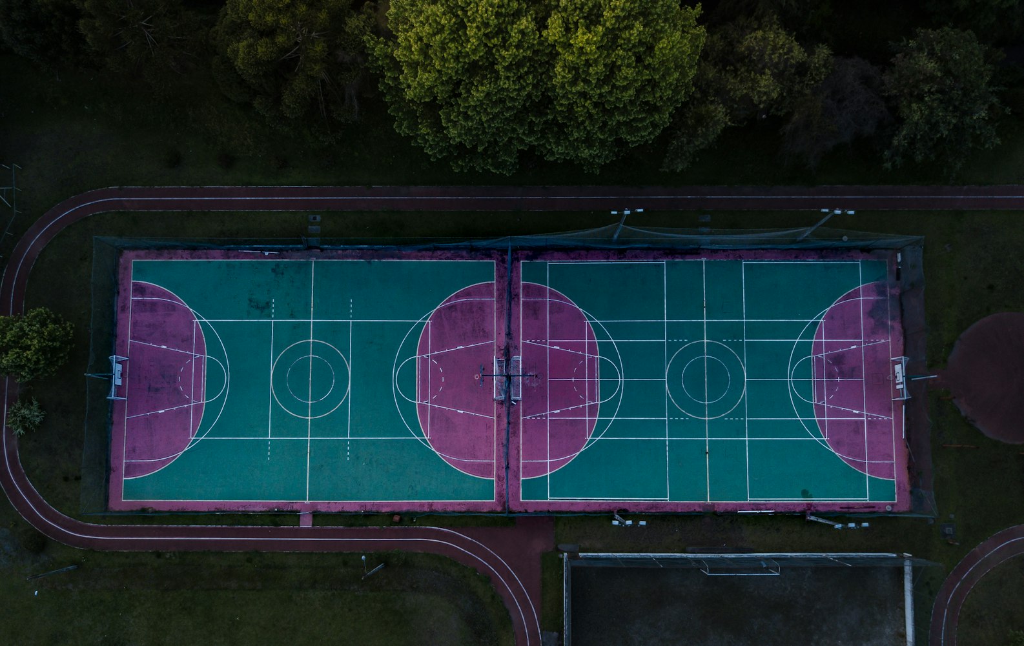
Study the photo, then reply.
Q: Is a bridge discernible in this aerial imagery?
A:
No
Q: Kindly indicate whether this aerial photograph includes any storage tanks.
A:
No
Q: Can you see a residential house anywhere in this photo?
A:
No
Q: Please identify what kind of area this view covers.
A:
sports ground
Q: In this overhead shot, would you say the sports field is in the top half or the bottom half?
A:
bottom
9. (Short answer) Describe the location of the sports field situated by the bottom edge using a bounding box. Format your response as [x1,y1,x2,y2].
[567,555,907,646]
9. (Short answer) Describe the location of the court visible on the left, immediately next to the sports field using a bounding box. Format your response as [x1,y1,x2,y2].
[107,249,509,512]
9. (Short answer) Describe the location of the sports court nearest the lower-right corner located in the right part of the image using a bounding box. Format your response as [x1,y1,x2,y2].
[509,249,911,512]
